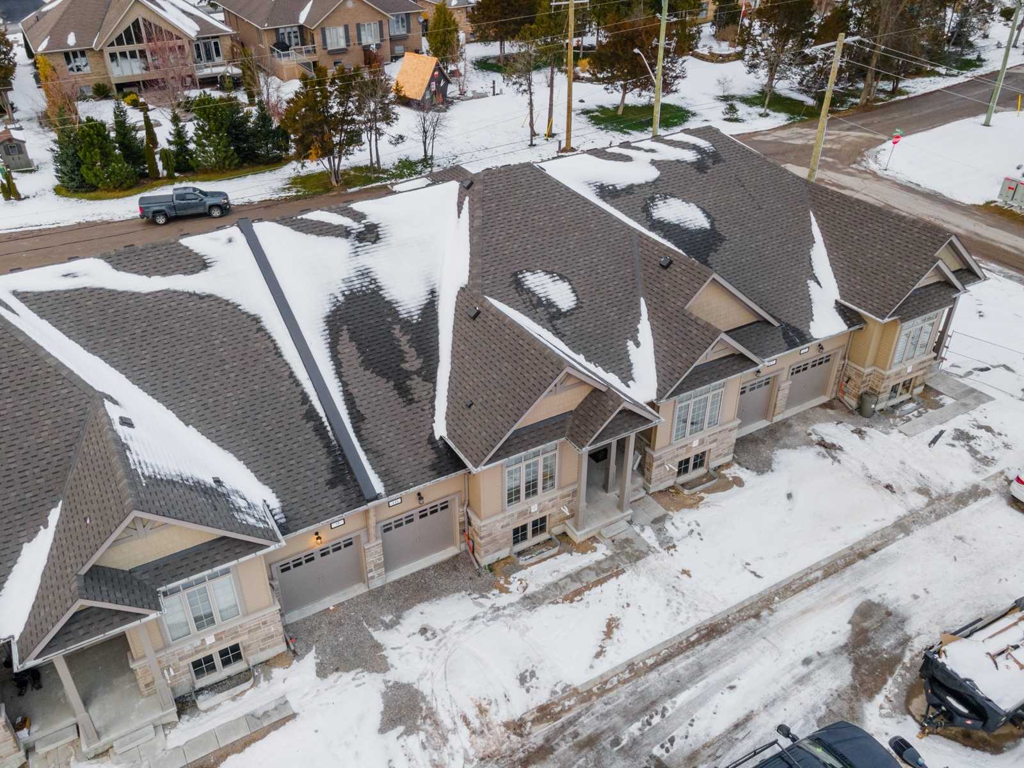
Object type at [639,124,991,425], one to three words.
house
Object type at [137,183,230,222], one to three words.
truck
